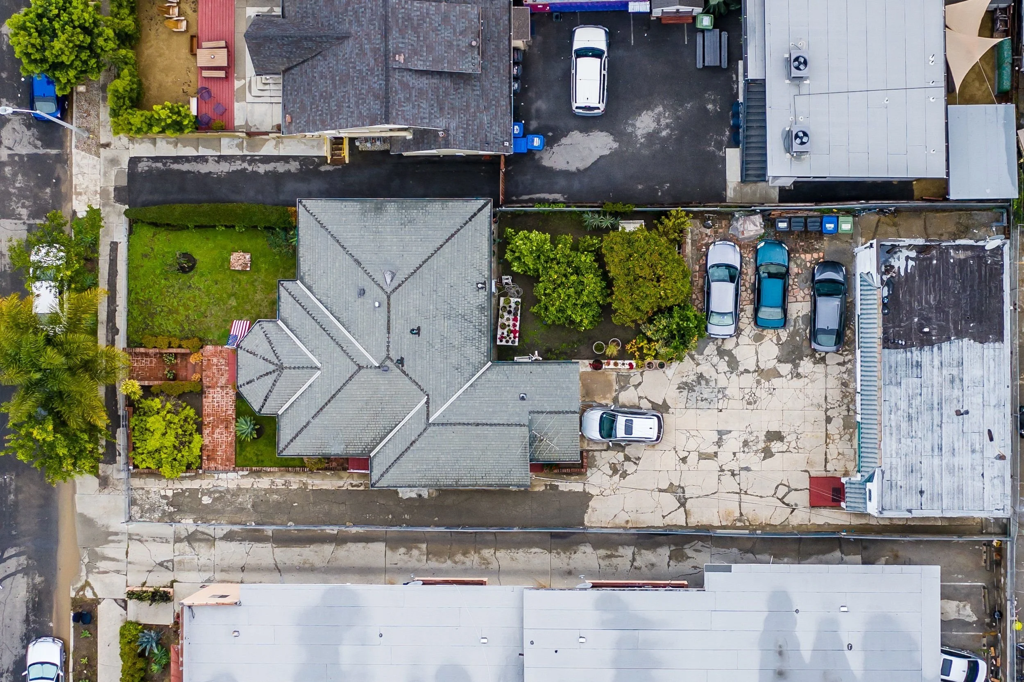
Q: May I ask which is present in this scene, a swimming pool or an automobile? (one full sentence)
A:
There is an automobile in the scene.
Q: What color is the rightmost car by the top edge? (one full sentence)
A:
In this view, the rightmost car by the top edge is white.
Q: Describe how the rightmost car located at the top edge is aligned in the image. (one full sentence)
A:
The rightmost car located at the top edge is oriented up and down.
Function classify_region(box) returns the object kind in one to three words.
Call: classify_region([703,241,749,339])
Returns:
car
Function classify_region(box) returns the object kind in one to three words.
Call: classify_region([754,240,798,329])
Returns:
car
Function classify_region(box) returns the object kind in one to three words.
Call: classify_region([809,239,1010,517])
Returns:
shed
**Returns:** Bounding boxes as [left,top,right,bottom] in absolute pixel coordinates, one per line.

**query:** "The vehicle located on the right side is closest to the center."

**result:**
[582,404,665,450]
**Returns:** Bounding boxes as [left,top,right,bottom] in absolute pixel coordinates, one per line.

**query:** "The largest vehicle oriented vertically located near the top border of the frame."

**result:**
[568,22,615,117]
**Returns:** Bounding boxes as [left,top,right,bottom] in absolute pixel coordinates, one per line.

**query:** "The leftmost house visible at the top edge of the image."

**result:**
[243,0,515,156]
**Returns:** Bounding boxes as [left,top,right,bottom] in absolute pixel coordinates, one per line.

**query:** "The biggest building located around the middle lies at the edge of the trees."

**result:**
[228,196,581,491]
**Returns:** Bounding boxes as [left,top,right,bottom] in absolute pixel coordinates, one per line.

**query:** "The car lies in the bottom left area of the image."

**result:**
[15,635,62,682]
